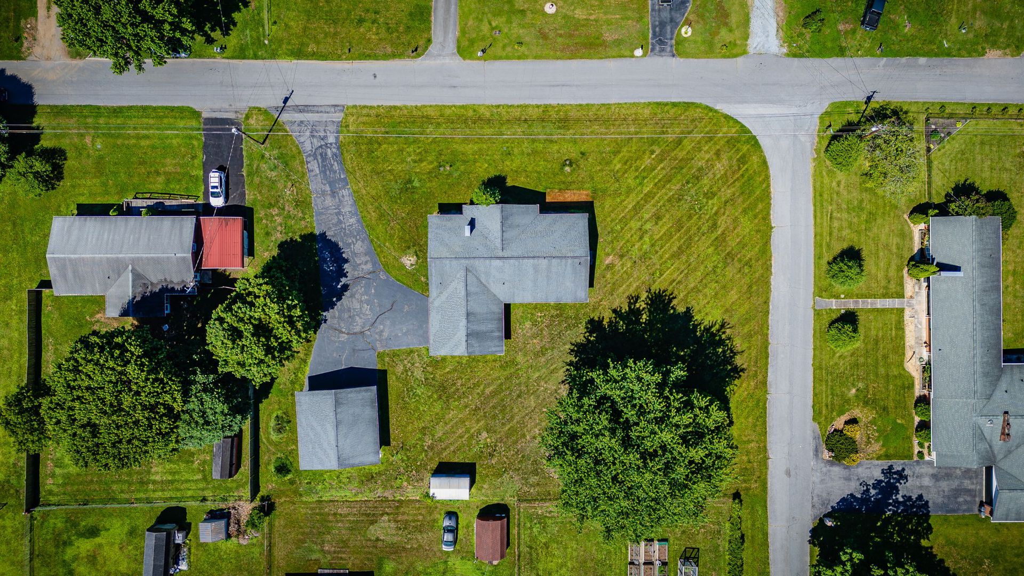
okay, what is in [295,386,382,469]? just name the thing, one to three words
building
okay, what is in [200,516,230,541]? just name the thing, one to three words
shed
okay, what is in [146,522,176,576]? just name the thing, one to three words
shed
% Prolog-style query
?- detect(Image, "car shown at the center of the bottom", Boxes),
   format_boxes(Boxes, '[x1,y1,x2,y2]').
[441,512,458,552]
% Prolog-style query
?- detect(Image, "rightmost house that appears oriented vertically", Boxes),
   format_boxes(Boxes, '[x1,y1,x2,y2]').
[921,215,1024,522]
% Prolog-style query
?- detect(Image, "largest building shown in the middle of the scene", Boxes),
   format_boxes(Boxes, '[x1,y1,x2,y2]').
[426,203,590,356]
